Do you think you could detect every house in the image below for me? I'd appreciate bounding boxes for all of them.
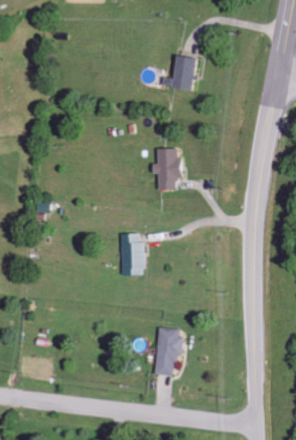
[121,234,149,276]
[152,149,181,190]
[162,56,198,90]
[155,328,182,376]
